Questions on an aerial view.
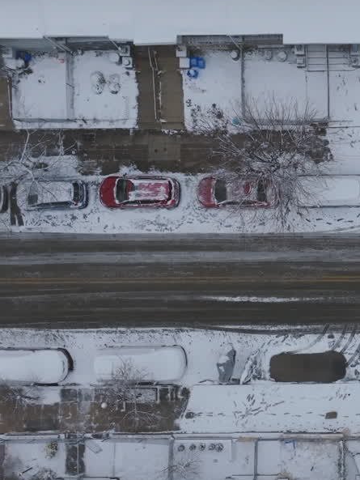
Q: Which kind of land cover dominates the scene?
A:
paved ground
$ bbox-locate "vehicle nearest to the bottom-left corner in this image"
[0,349,77,387]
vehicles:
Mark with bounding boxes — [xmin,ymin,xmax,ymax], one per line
[0,181,13,214]
[198,175,276,212]
[0,349,77,387]
[101,174,183,212]
[92,347,191,385]
[291,173,360,211]
[19,176,91,213]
